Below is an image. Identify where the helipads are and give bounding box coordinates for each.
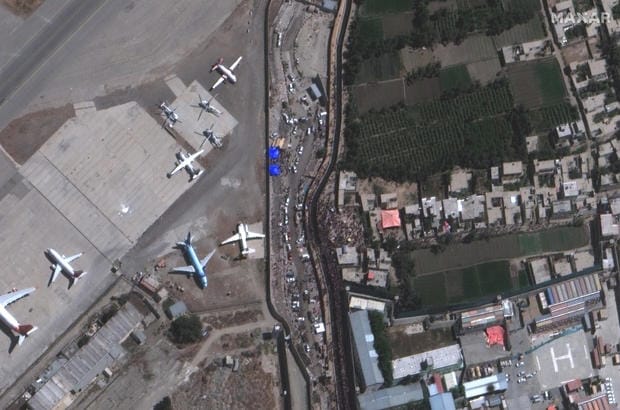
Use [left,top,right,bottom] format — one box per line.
[531,336,596,389]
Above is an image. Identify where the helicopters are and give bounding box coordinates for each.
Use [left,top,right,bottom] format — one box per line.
[199,124,223,147]
[158,101,183,127]
[193,96,223,119]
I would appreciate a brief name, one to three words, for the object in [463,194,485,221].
house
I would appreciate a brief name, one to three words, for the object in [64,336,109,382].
shed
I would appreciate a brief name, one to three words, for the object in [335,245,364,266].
house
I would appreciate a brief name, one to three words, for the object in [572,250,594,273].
building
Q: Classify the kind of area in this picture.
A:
airport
